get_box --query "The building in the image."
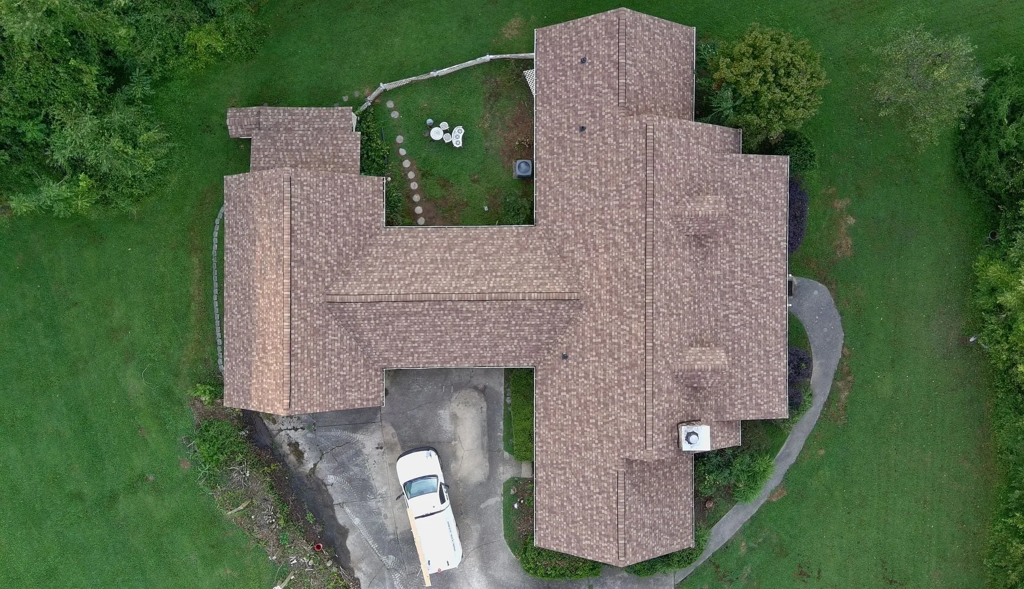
[223,8,789,566]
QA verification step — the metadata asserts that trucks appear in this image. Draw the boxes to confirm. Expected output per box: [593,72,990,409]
[398,446,464,578]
